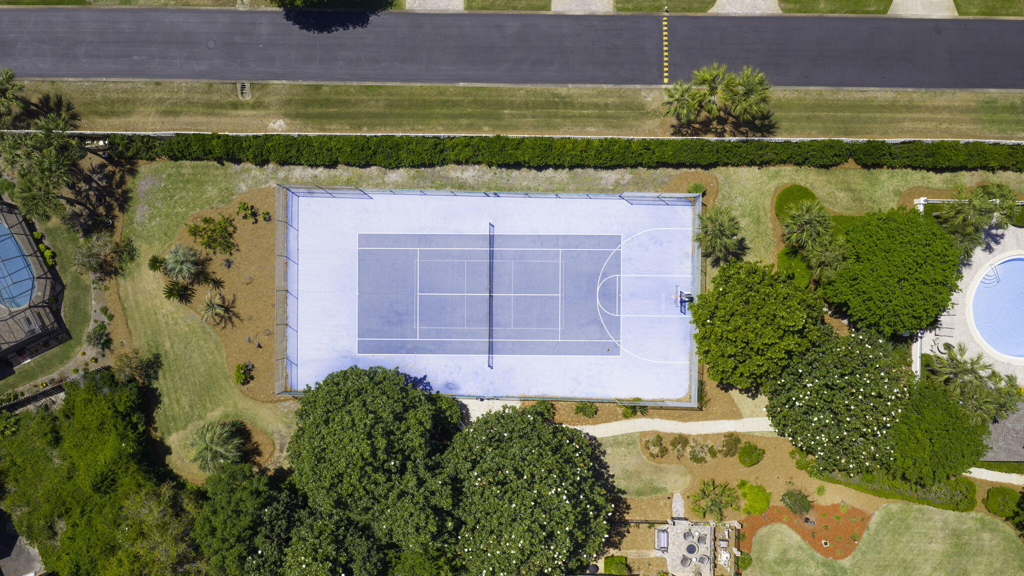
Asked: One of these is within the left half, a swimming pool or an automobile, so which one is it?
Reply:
swimming pool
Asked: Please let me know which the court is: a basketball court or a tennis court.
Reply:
tennis court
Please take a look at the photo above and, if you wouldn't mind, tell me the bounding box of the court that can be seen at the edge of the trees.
[287,189,692,399]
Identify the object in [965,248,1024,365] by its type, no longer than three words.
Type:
swimming pool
